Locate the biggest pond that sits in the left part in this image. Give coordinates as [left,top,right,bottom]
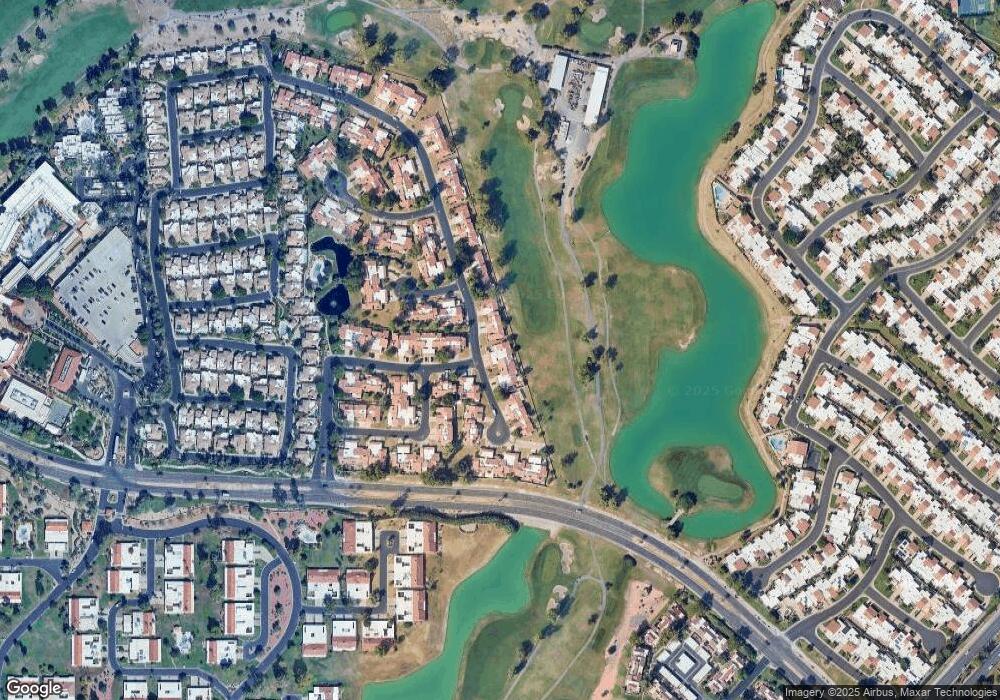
[309,236,353,317]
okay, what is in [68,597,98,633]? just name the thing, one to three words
building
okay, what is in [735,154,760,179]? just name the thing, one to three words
house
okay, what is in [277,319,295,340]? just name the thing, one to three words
swimming pool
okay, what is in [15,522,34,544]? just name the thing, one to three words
swimming pool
